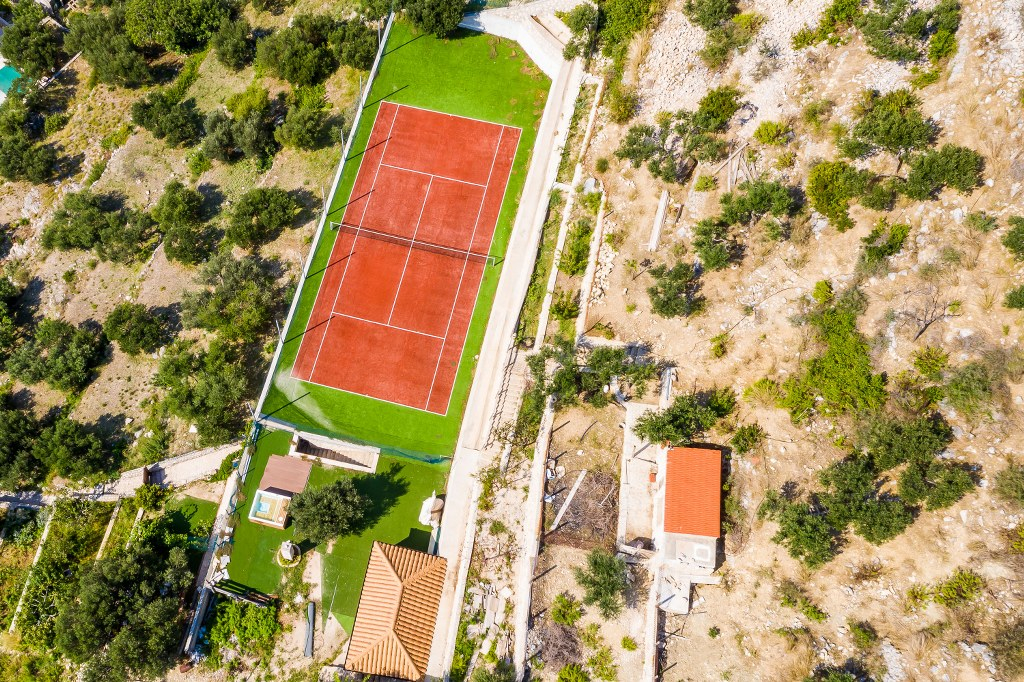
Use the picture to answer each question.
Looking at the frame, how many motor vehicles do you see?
0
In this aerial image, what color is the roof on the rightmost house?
orange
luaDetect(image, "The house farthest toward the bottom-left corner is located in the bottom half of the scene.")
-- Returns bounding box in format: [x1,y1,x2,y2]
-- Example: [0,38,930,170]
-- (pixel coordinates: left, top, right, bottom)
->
[343,538,448,682]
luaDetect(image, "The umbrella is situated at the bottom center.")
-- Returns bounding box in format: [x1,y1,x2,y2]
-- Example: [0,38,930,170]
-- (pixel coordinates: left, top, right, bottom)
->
[415,493,434,522]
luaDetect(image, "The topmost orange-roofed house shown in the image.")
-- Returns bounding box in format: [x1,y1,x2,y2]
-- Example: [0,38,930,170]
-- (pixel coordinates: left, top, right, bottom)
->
[650,435,722,576]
